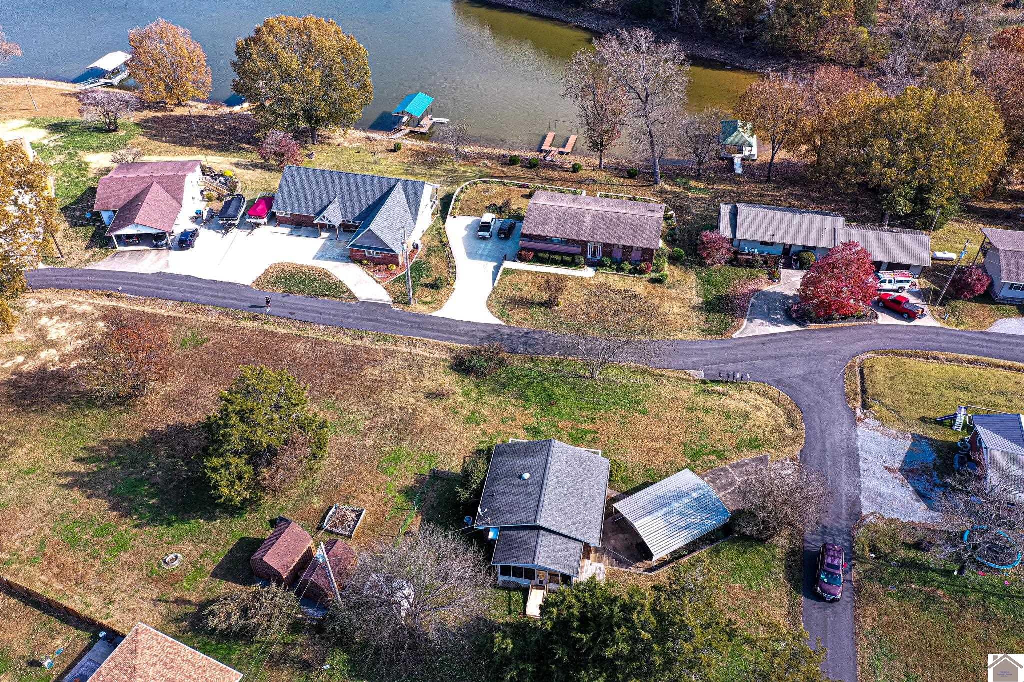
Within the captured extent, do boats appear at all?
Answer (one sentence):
Yes, a boat can be made out from above.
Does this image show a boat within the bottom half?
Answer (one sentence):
No, there is no boat within the bottom half.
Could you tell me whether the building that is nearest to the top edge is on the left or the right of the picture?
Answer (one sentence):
You can find the building that is nearest to the top edge on the right side of the picture.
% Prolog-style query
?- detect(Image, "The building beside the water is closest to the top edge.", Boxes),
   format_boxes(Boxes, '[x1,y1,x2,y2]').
[713,118,756,160]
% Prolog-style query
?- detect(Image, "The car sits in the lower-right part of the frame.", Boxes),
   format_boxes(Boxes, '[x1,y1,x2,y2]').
[815,541,850,605]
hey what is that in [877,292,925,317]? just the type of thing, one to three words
truck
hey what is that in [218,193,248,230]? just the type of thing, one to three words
boat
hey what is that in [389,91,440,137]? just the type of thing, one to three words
pier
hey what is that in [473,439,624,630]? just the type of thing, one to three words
house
